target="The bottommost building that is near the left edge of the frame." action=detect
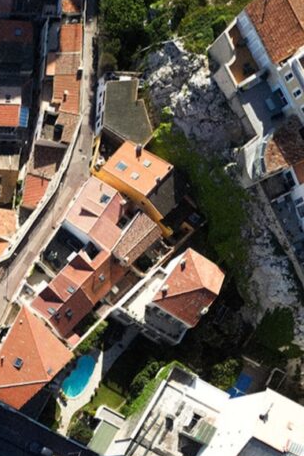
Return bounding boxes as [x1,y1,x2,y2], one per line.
[0,305,73,418]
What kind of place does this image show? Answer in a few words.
residential area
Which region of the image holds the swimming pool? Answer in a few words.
bottom left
